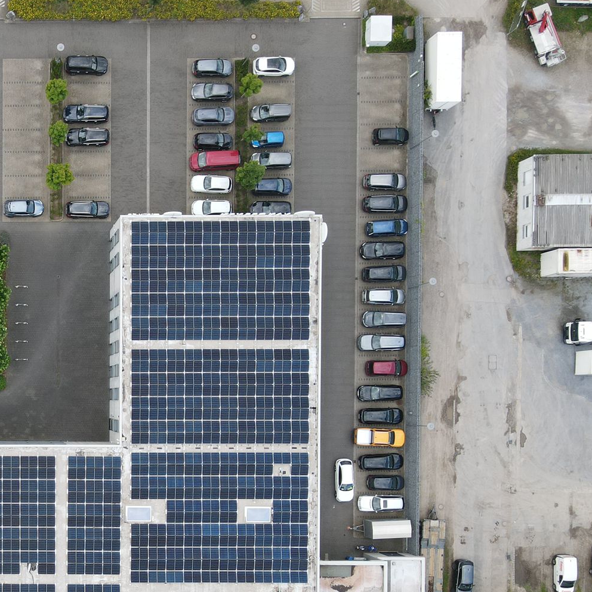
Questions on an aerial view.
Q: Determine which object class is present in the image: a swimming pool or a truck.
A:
truck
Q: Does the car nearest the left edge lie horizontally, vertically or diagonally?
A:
horizontally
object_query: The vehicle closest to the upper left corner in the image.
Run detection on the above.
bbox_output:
[64,53,109,78]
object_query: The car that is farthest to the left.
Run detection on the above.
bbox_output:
[4,198,45,218]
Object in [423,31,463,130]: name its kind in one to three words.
trailer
